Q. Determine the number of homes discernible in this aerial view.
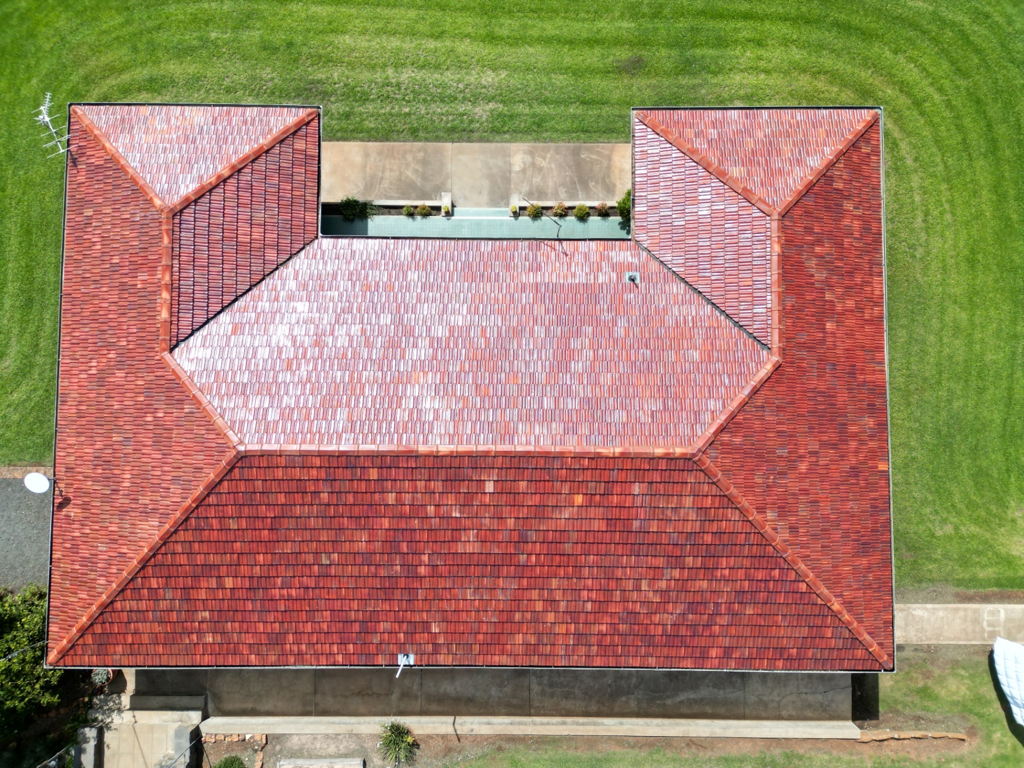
1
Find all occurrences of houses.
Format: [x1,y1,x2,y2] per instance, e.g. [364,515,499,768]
[45,104,896,678]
